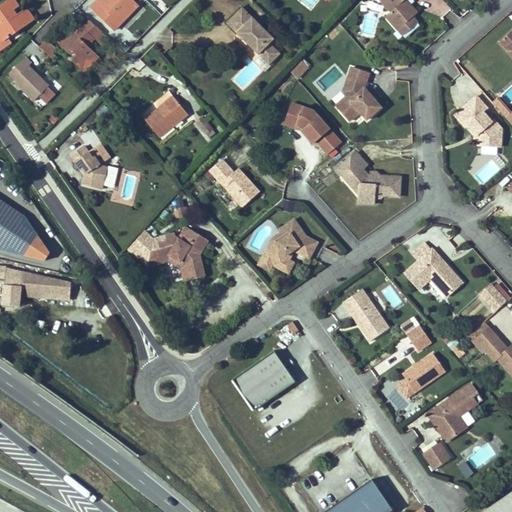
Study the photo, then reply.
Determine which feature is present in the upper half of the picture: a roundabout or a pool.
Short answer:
pool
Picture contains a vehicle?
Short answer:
Yes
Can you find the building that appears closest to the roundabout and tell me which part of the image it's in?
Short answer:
bottom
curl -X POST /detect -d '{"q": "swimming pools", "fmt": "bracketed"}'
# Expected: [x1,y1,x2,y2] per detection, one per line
[379,282,407,310]
[459,433,504,472]
[244,219,278,256]
[468,154,507,186]
[312,62,346,101]
[111,168,140,206]
[232,56,272,90]
[301,0,320,10]
[497,83,512,110]
[358,2,382,37]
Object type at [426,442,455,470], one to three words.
building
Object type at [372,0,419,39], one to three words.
house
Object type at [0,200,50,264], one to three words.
building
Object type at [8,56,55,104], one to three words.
house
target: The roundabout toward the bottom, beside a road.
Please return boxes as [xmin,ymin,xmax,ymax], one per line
[136,356,202,422]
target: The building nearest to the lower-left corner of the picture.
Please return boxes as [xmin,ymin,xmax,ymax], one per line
[0,269,70,309]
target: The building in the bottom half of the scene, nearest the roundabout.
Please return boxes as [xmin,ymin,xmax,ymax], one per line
[234,352,296,410]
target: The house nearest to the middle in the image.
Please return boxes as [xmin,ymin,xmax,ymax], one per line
[258,218,319,275]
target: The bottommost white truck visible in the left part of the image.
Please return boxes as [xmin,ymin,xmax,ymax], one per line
[61,474,97,504]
